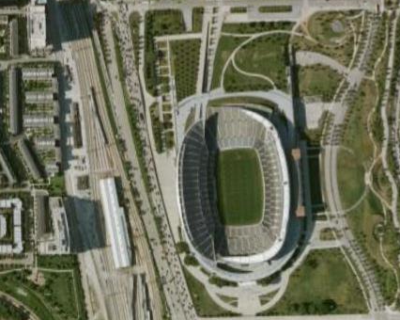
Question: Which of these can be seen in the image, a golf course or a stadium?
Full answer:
It is a stadium that can be seen here.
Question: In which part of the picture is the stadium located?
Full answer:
The stadium appears toward the center of the photo.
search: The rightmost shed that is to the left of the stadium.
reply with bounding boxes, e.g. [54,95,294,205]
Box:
[100,179,133,267]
